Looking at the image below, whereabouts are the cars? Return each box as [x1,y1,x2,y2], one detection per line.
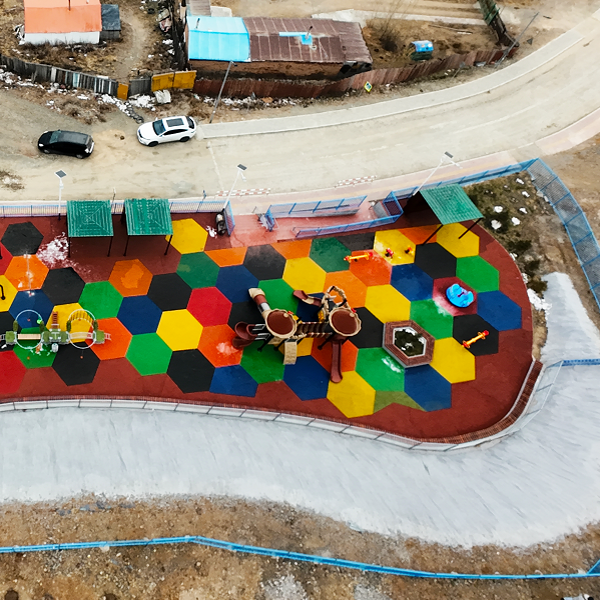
[139,118,196,150]
[39,132,94,161]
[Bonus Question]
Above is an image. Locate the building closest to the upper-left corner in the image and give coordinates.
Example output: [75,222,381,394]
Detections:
[22,0,102,46]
